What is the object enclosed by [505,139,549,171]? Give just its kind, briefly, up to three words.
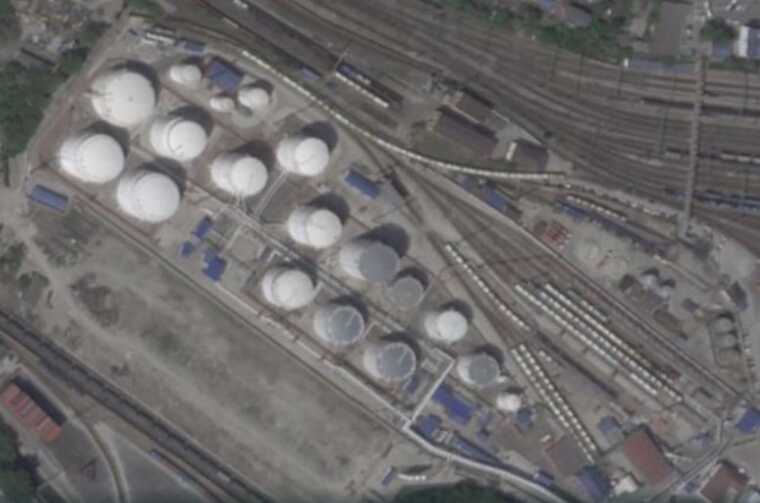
shed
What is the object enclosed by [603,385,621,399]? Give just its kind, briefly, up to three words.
rail car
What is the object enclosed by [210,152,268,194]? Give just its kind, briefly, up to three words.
storage tank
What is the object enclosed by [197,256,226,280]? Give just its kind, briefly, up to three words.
building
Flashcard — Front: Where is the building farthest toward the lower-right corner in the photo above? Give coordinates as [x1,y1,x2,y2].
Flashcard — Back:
[695,460,753,503]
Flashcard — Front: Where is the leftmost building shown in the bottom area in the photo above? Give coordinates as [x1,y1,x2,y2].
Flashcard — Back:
[0,379,63,443]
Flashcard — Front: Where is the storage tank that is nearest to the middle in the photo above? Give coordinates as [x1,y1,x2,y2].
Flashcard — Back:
[338,237,399,283]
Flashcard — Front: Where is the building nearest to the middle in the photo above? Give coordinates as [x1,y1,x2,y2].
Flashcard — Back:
[340,169,381,198]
